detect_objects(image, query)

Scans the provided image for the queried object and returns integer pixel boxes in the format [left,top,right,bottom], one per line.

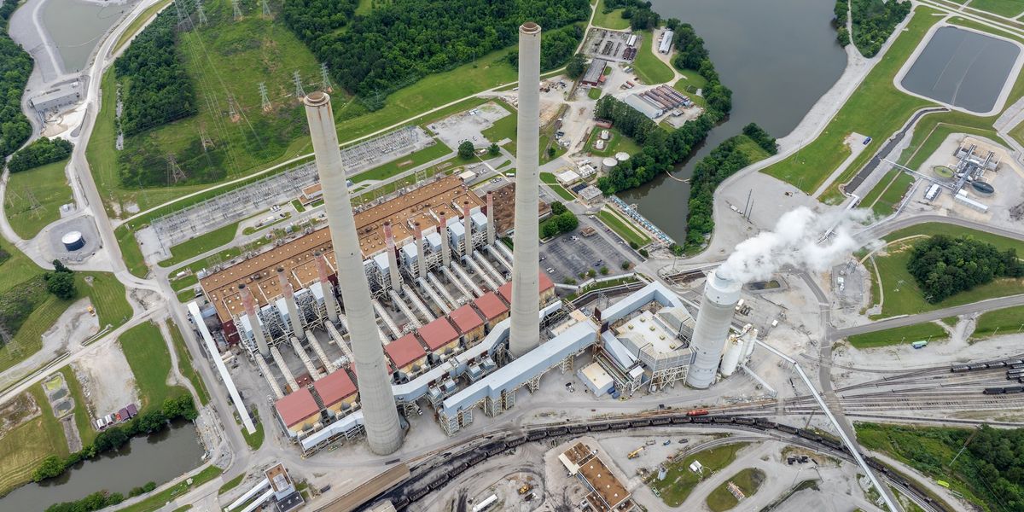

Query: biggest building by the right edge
[949,145,998,196]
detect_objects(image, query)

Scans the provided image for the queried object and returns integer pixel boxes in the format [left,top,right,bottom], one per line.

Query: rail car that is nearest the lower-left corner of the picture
[393,492,414,507]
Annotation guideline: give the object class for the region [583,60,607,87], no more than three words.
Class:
building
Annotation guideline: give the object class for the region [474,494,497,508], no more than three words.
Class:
vehicle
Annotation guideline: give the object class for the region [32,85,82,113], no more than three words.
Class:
shed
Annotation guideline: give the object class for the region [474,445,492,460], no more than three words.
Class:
rail car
